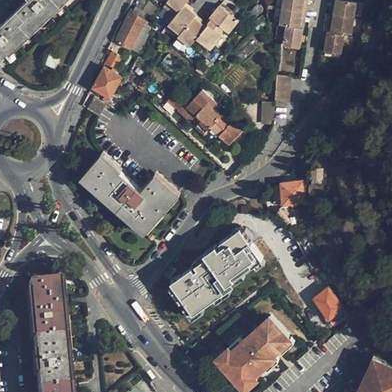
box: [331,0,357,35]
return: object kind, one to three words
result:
house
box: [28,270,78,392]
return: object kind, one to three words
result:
building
